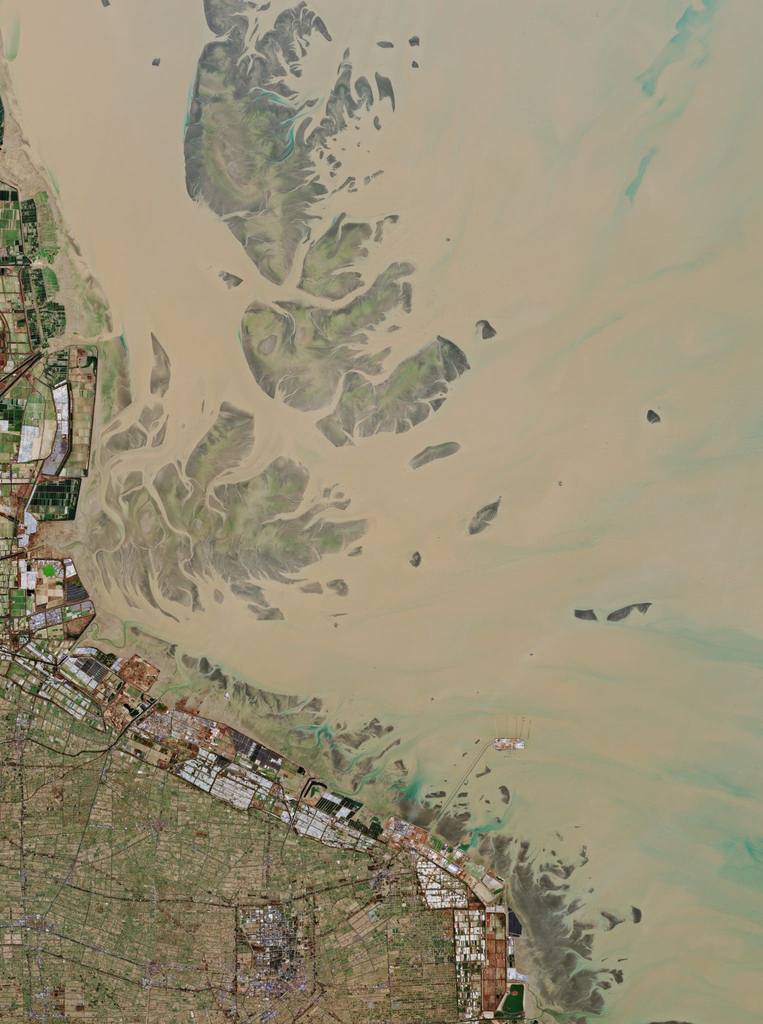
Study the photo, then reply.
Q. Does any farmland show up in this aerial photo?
Yes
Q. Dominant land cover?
water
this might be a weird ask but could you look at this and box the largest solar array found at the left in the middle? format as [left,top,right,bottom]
[66,580,89,602]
